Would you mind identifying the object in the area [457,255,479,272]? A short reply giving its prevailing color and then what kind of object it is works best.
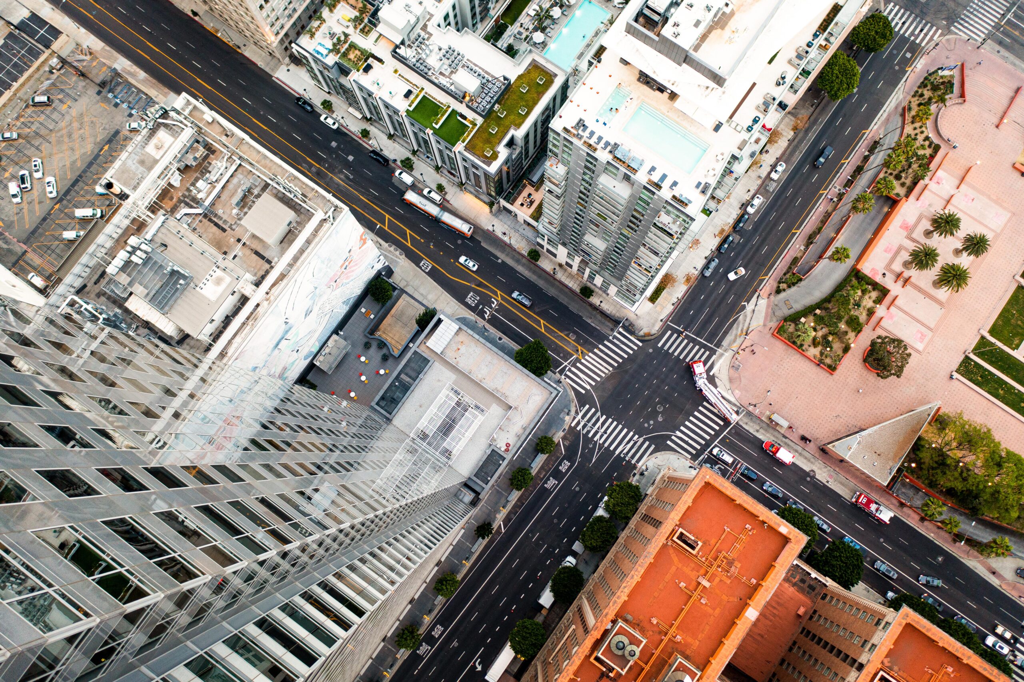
white car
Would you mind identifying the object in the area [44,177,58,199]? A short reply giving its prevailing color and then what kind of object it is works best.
white car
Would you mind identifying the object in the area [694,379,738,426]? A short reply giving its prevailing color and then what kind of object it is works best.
white trailer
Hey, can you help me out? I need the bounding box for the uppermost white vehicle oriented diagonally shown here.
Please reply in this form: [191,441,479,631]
[319,114,340,131]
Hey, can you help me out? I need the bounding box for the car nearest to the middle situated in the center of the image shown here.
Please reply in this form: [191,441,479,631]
[511,290,533,309]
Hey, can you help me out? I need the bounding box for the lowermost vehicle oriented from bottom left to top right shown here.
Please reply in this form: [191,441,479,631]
[487,641,516,682]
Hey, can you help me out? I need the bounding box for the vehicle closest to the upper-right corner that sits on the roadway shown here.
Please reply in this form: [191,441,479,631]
[814,145,834,168]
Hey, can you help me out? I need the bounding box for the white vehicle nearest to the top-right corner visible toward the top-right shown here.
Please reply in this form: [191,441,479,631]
[768,162,787,182]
